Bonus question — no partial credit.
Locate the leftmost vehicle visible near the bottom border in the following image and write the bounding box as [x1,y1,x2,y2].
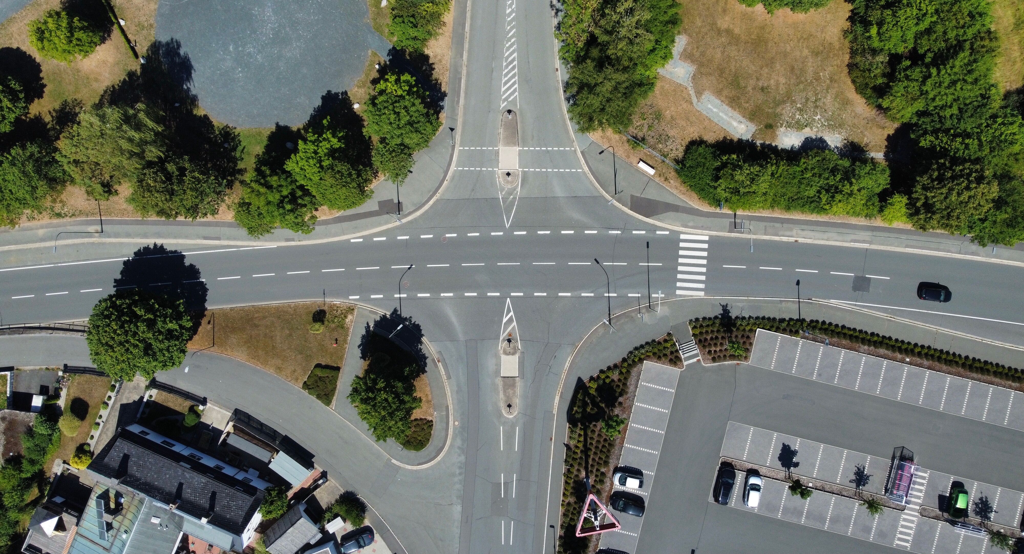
[335,529,371,554]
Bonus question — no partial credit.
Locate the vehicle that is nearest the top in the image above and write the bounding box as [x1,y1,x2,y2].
[921,287,956,306]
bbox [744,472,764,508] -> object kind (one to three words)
car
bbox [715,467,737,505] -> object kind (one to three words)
car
